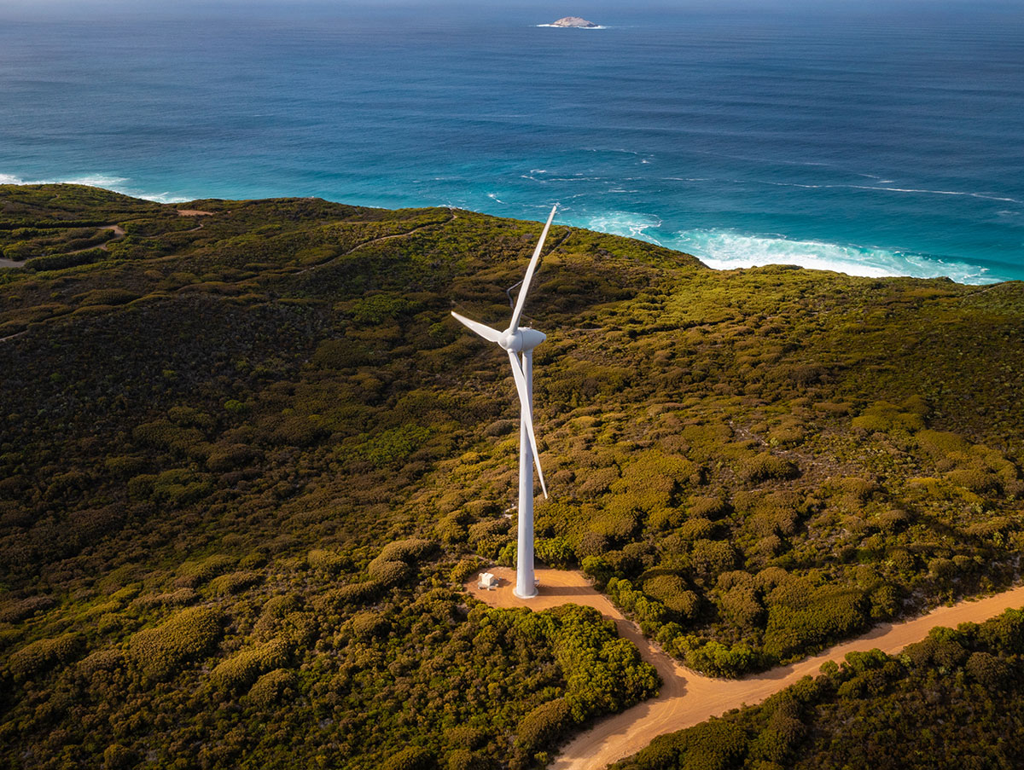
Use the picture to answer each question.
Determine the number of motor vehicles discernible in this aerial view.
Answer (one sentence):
No motor vehicles are visible.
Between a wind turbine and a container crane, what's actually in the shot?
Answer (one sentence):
This aerial view contains a wind turbine.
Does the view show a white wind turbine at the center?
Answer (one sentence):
Yes, a white wind turbine is visible at the center.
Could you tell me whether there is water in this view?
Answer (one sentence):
Yes, the picture does contain water.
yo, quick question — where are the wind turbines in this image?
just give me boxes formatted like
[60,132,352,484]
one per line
[451,202,552,597]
